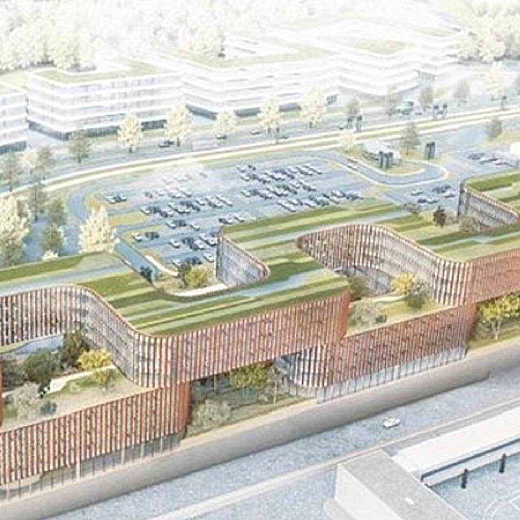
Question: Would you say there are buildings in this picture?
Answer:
Yes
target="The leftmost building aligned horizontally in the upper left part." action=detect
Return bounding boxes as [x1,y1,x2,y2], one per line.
[30,59,182,135]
